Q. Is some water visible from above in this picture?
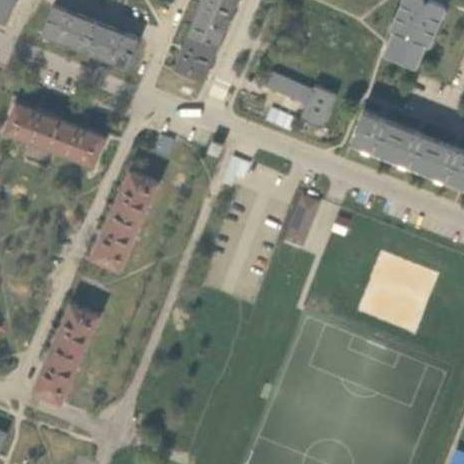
No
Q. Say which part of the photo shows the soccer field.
bottom right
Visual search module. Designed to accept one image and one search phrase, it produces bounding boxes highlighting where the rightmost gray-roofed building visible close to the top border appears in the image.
[383,0,446,74]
